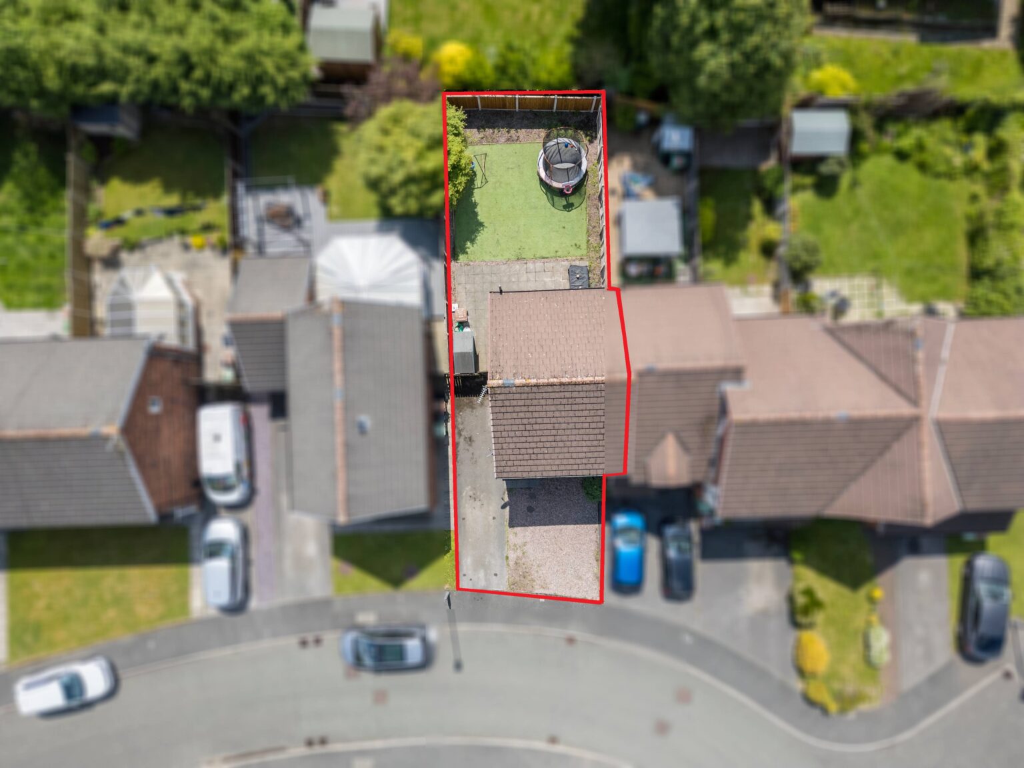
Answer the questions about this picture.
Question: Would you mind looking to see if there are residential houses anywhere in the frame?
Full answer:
Yes, a residential house is visible in the scene.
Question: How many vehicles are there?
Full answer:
Looking from above, you can make out 7 vehicles.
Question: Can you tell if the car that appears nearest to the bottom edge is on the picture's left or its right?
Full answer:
You can find the car that appears nearest to the bottom edge on the left side of the picture.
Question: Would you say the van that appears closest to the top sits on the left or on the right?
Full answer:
You can find the van that appears closest to the top on the left side of the picture.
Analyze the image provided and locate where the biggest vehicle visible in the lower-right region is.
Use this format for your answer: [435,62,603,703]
[952,552,1012,659]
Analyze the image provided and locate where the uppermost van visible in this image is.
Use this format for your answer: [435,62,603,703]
[201,407,253,509]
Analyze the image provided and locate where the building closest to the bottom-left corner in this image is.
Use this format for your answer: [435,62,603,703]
[0,334,205,530]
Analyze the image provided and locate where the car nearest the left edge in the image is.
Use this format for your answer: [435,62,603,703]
[14,655,118,714]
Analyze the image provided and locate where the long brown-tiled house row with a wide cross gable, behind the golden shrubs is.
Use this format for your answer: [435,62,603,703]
[689,311,1024,529]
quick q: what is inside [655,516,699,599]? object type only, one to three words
car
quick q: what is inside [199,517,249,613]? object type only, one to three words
car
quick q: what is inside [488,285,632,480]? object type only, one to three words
house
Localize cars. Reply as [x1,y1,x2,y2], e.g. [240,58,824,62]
[655,516,699,599]
[607,509,651,593]
[952,552,1012,659]
[341,624,437,673]
[199,517,249,613]
[14,655,118,714]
